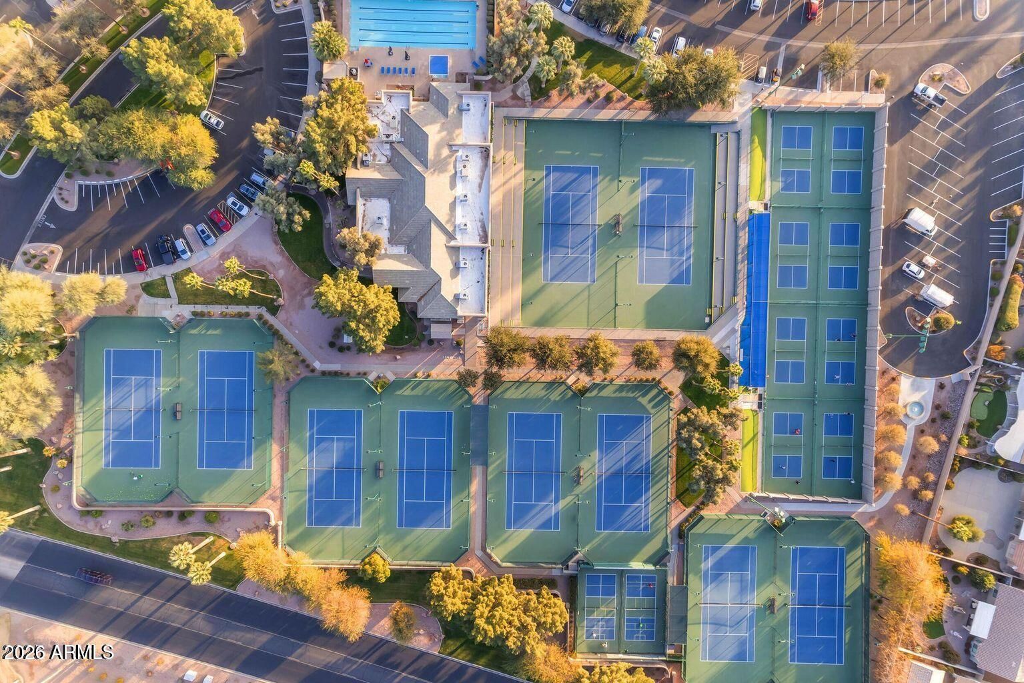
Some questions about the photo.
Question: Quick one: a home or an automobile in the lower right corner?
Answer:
home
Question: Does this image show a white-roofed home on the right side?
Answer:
Yes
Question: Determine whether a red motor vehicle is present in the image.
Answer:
Yes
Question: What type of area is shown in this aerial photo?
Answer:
sports ground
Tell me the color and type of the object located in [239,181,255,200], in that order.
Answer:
blue car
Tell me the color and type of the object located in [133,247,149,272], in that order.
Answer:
red car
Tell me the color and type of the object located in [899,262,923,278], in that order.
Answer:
white car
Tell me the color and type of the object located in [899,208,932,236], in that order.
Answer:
white truck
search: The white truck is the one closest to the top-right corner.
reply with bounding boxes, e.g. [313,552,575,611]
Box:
[912,84,948,108]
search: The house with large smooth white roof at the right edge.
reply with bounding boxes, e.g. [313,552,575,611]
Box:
[980,372,1024,465]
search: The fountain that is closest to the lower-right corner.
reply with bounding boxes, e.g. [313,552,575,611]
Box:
[906,400,926,419]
